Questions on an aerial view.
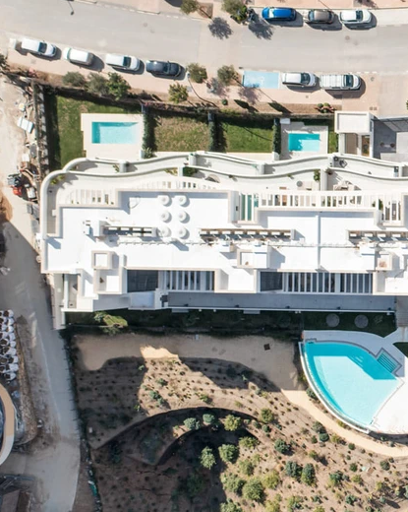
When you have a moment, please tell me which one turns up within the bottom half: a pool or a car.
pool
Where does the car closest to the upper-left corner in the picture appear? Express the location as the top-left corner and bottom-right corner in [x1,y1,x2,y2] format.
[18,38,58,58]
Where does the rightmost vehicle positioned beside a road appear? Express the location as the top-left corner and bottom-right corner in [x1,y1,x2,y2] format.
[340,8,372,24]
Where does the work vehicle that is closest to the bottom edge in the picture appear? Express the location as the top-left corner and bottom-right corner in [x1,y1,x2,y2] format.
[3,167,27,197]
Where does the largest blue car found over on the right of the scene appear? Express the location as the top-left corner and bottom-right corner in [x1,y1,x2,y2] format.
[263,5,297,23]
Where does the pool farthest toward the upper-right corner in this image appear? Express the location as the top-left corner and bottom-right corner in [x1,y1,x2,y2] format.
[281,126,328,159]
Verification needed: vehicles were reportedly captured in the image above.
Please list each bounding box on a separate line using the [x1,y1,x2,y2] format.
[318,73,361,91]
[62,47,98,67]
[340,8,372,24]
[145,61,182,78]
[282,71,316,88]
[263,5,297,23]
[302,8,337,25]
[3,167,27,197]
[18,38,58,58]
[106,54,141,71]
